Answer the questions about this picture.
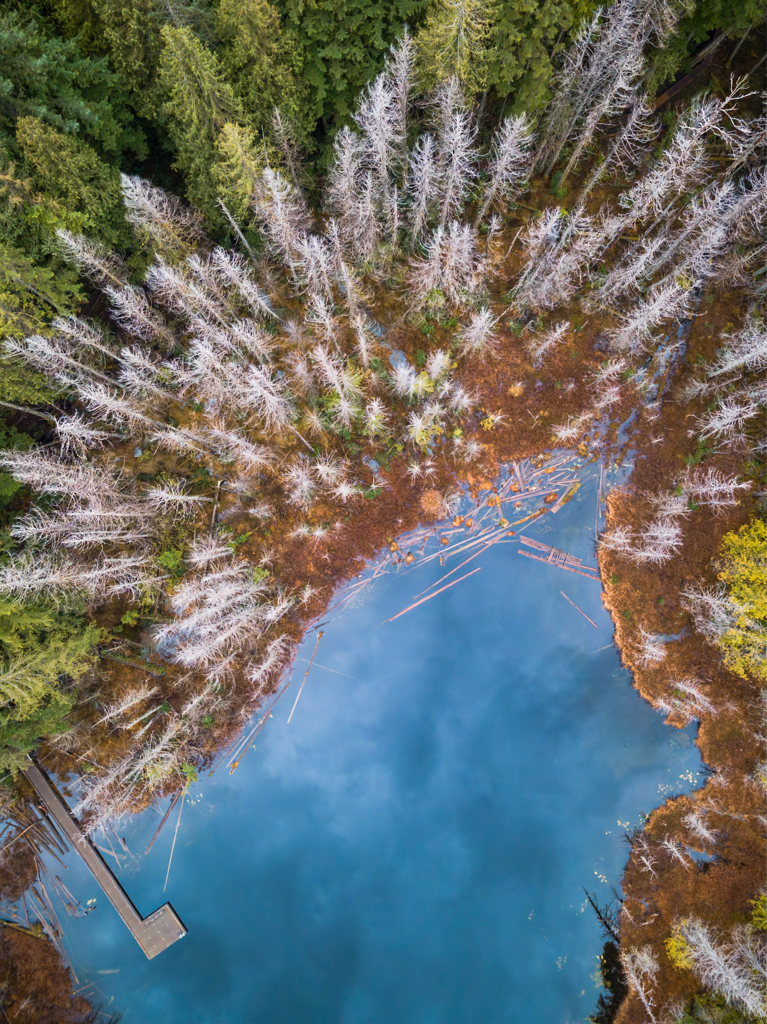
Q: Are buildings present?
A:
No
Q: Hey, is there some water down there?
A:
Yes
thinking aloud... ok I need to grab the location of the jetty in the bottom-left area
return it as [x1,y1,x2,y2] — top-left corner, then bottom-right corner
[21,755,188,961]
